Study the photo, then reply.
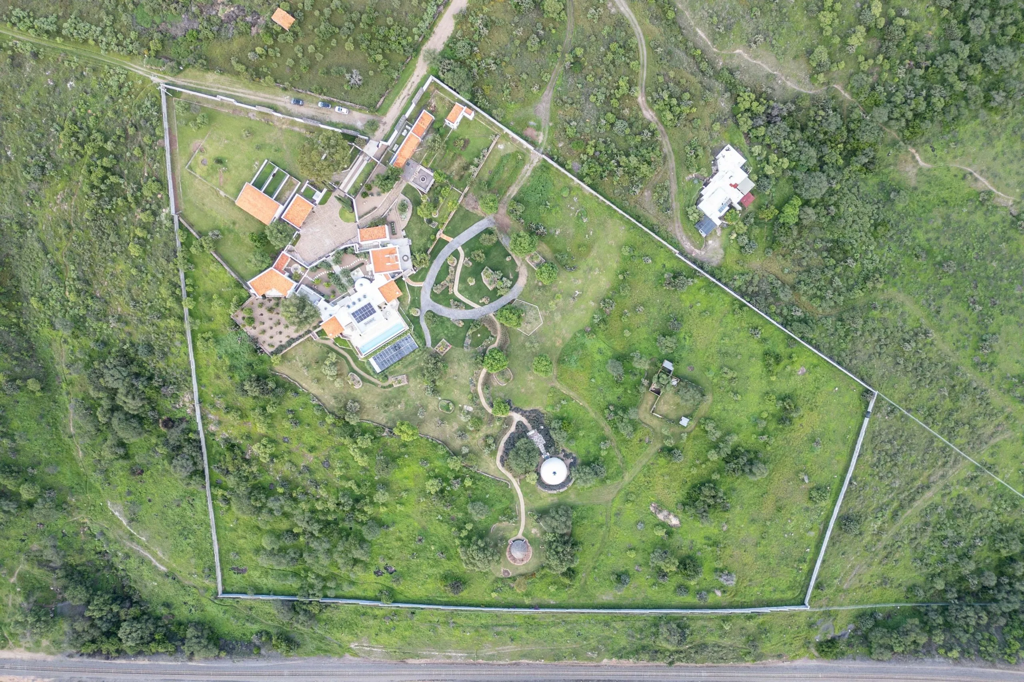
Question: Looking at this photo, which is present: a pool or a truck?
pool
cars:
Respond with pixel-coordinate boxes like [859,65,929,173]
[335,106,348,113]
[317,101,331,108]
[290,97,303,105]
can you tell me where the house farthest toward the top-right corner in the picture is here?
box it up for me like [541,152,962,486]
[693,144,755,238]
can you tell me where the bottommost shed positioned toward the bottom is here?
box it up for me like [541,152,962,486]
[506,539,532,565]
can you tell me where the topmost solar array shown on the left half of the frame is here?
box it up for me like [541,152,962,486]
[351,302,377,323]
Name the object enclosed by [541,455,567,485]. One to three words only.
shed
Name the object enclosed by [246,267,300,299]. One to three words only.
house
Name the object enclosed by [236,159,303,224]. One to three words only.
barn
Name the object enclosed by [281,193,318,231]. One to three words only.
building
